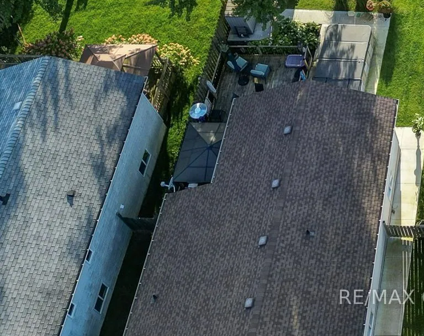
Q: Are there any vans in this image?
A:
No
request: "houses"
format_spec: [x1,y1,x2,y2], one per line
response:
[0,56,167,336]
[124,82,401,336]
